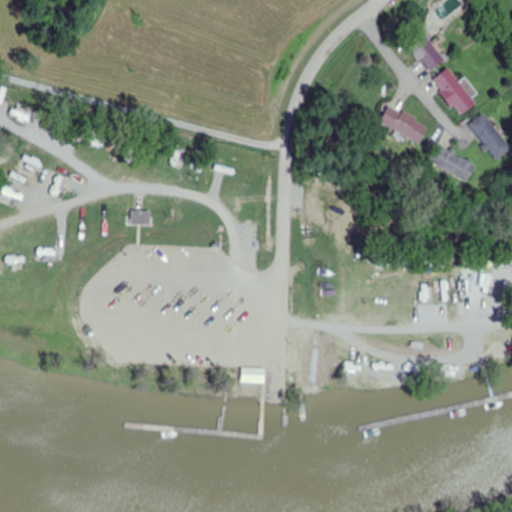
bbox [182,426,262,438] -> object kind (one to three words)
pier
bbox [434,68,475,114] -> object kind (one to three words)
house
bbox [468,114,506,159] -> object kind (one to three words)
house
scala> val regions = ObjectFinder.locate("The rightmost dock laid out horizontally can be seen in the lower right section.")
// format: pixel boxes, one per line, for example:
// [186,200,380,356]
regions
[432,392,512,414]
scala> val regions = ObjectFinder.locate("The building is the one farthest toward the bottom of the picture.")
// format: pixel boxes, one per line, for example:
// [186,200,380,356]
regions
[239,368,266,384]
